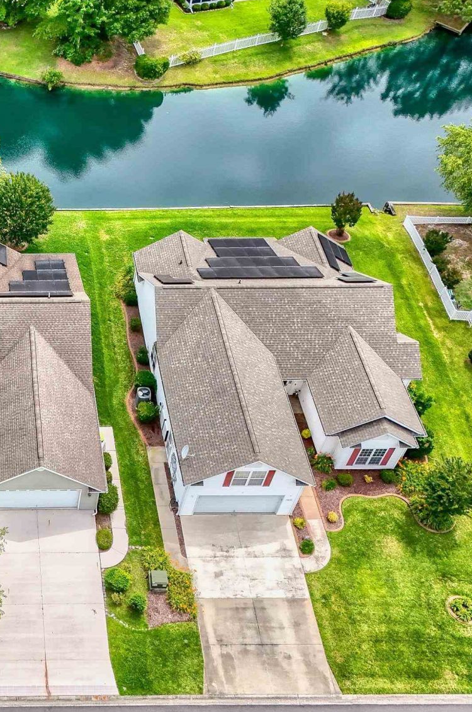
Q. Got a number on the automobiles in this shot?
zero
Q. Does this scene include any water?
Yes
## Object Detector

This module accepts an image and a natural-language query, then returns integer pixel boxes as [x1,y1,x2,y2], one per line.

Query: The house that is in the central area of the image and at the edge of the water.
[131,226,427,521]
